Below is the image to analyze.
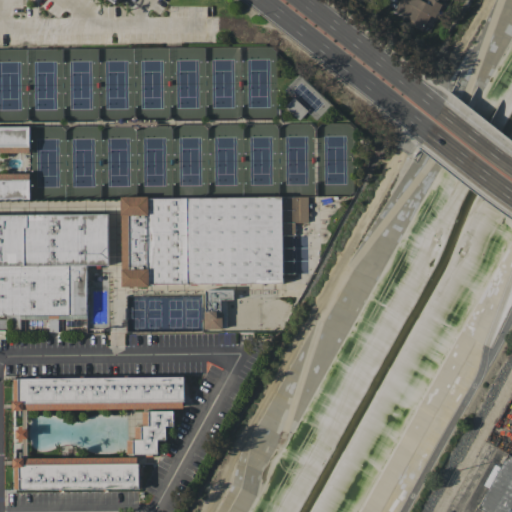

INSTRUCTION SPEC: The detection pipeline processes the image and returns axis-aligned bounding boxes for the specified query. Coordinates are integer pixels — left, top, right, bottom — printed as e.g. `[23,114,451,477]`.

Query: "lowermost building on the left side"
[11,458,140,492]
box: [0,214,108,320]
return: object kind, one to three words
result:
building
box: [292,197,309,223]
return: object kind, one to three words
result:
building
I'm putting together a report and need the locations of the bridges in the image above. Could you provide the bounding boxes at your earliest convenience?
[422,88,512,218]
